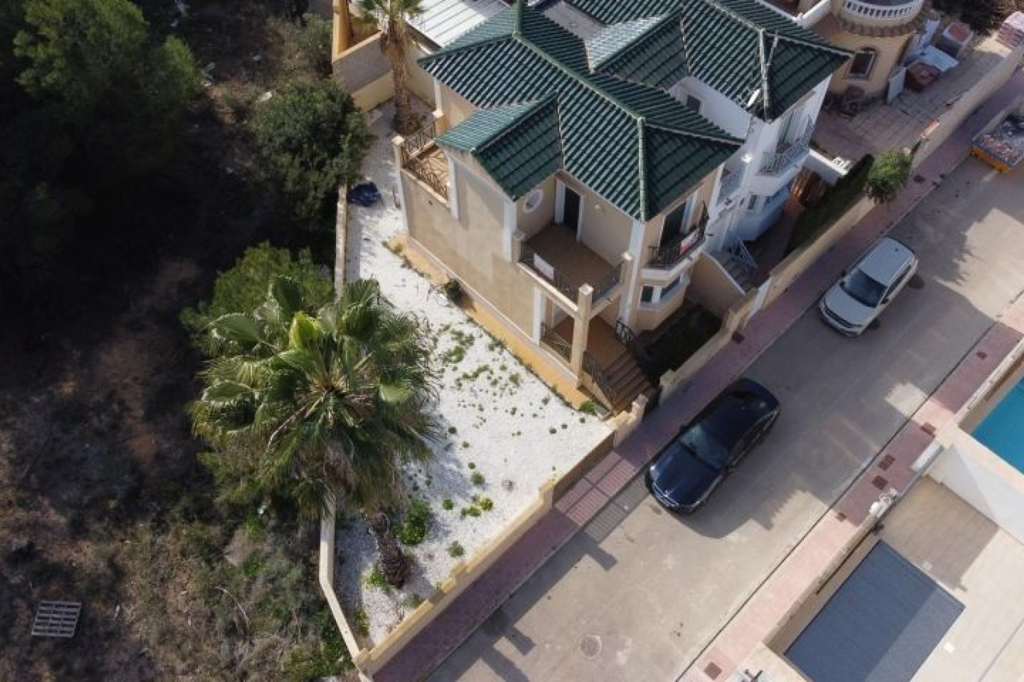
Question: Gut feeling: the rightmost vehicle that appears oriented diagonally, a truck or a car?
car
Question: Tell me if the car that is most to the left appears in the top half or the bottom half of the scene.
bottom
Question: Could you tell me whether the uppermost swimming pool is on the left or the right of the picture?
right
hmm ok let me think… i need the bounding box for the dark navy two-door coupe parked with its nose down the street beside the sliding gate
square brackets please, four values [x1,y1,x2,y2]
[646,382,780,513]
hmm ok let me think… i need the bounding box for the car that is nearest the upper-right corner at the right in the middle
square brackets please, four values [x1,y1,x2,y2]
[817,236,927,343]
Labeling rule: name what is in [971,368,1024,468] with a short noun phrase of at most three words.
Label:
swimming pool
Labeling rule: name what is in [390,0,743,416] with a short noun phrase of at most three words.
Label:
house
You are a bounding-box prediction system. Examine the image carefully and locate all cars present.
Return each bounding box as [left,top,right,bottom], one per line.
[646,382,780,513]
[817,236,927,343]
